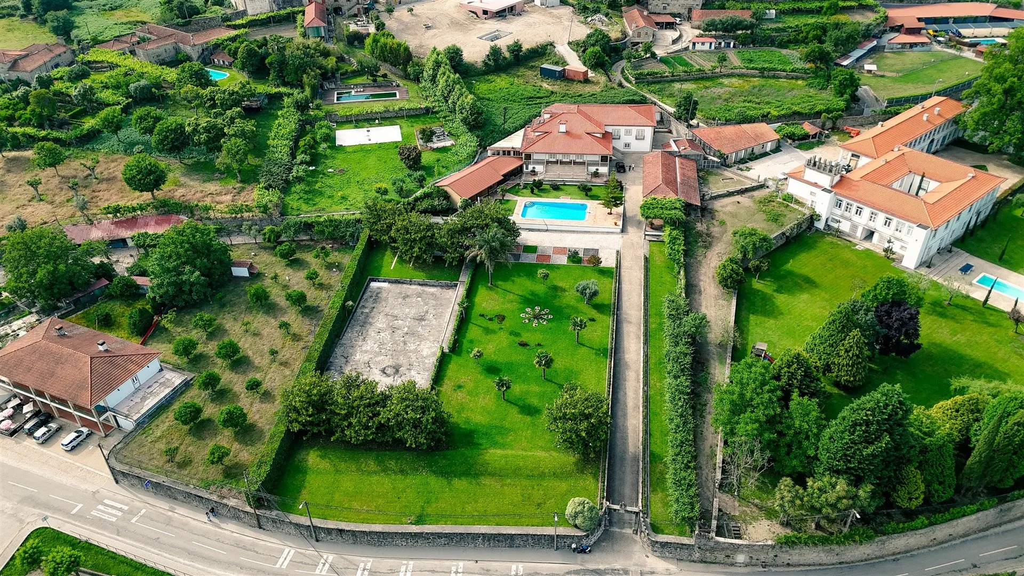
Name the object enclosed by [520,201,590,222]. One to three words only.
swimming pool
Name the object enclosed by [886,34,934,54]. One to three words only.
building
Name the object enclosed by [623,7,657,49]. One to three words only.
house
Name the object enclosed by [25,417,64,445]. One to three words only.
car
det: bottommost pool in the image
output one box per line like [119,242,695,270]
[970,269,1024,302]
